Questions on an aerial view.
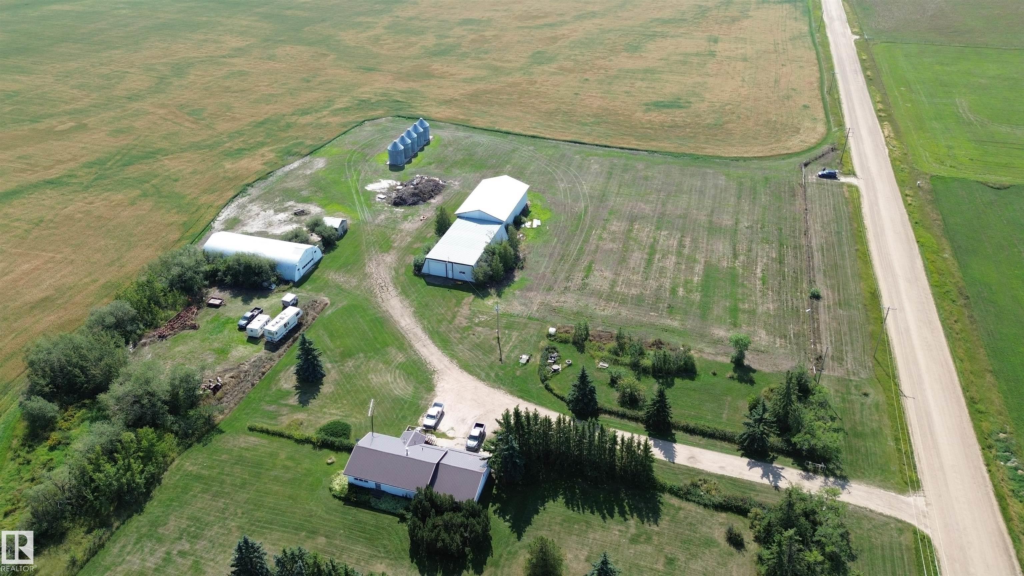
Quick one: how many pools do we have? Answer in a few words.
0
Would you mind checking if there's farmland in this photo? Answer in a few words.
Yes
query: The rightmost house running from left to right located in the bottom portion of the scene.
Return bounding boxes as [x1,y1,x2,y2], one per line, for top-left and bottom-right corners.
[343,428,493,505]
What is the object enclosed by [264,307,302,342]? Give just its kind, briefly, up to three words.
trailer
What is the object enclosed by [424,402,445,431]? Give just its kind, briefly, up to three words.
truck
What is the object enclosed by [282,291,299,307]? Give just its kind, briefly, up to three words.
camper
